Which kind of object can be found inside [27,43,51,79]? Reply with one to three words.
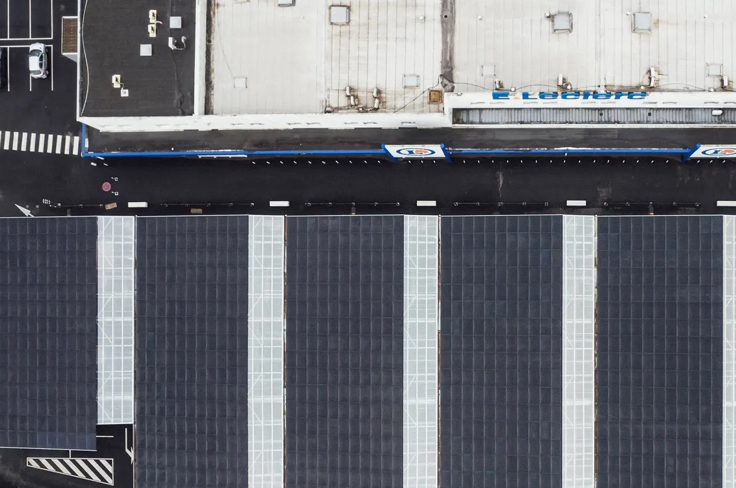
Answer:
car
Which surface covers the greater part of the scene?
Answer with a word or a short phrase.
buildings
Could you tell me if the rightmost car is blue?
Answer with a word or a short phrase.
No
